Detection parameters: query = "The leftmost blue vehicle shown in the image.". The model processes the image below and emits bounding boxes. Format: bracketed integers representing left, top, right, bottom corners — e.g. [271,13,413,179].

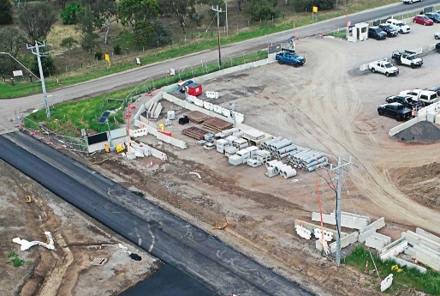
[275,49,307,68]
